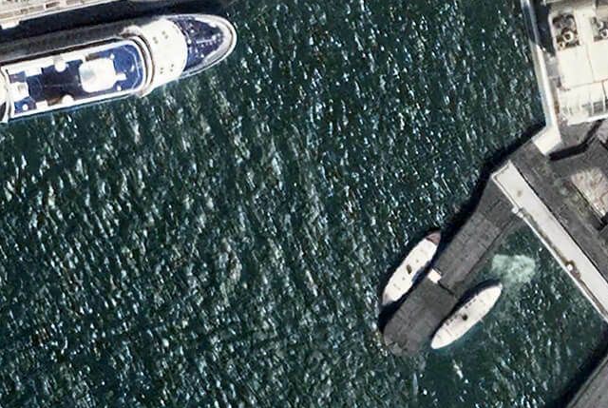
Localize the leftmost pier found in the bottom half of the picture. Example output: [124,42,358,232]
[383,175,521,353]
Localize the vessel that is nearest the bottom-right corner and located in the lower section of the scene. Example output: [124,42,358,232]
[433,282,501,346]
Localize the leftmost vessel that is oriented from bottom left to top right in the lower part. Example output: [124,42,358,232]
[384,232,439,302]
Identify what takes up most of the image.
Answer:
water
